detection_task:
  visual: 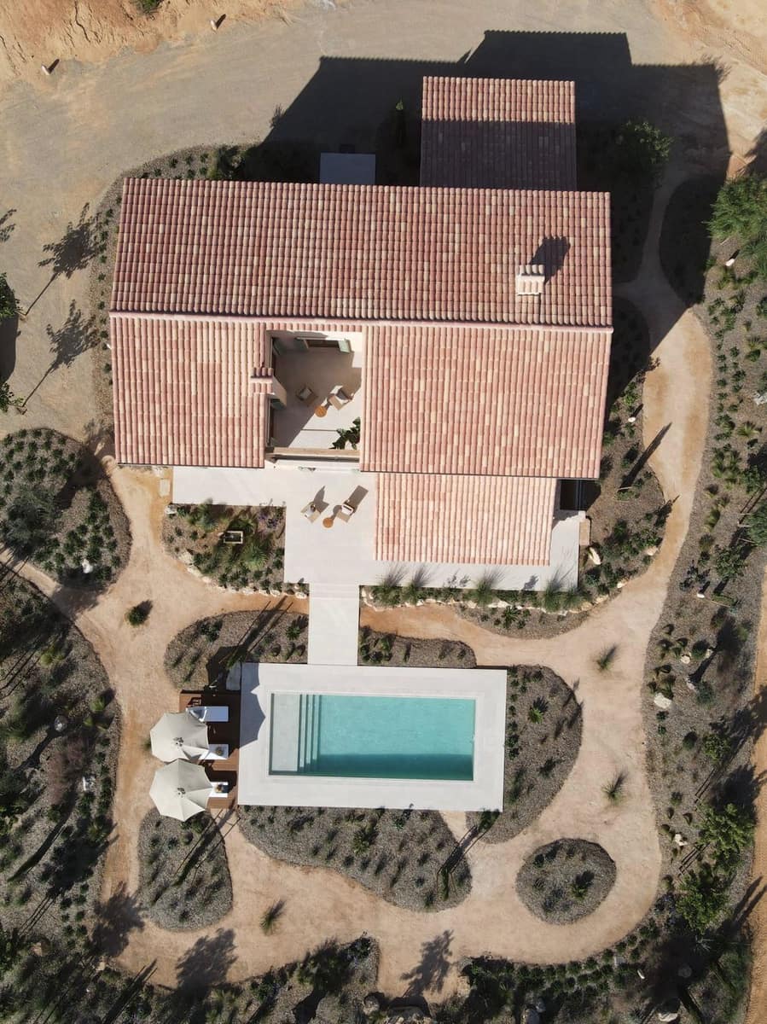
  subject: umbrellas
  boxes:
[149,706,210,761]
[150,756,215,819]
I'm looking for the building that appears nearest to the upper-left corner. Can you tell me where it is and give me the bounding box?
[106,75,614,567]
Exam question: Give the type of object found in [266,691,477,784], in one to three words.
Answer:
swimming pool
